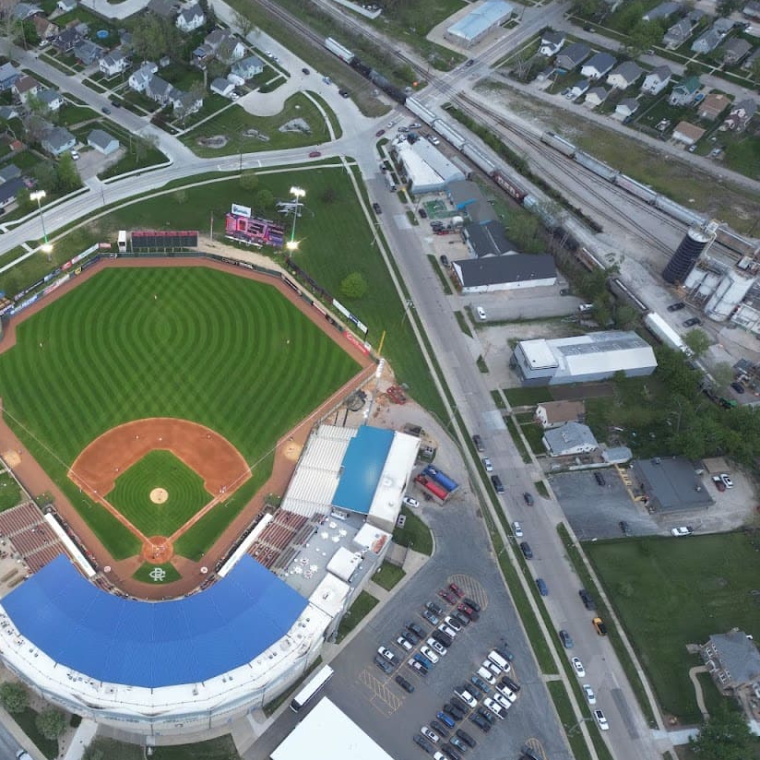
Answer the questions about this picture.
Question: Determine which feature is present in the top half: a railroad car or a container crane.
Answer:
railroad car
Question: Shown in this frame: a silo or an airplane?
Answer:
silo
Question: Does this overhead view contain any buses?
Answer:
Yes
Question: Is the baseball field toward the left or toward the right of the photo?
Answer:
left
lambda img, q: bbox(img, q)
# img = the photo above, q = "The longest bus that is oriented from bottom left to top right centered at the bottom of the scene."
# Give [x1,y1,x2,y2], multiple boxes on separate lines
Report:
[289,664,333,713]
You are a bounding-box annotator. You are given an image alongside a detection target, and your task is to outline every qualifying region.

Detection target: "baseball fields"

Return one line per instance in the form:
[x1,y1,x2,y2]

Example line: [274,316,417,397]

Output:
[0,254,375,601]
